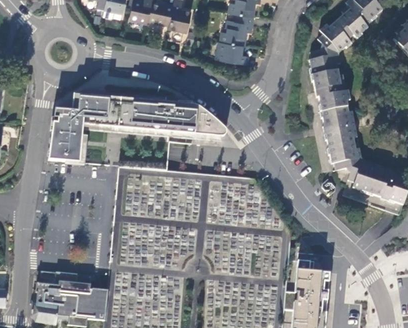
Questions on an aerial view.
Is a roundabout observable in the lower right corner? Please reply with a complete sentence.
No, I see no roundabout in the lower right corner.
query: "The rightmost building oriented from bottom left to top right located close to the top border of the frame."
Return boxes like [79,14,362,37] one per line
[316,0,384,55]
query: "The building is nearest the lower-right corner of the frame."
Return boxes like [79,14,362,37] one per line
[281,256,332,328]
